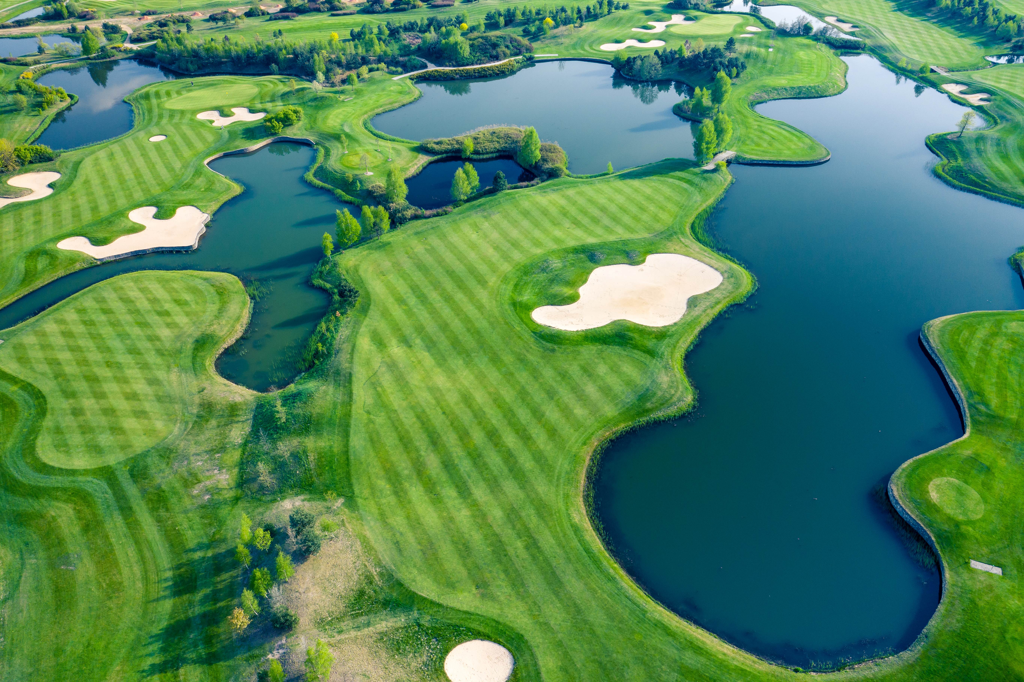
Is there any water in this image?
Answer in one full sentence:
Yes, there's water in this view.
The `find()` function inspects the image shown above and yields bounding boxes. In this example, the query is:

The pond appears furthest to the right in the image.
[718,0,858,39]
